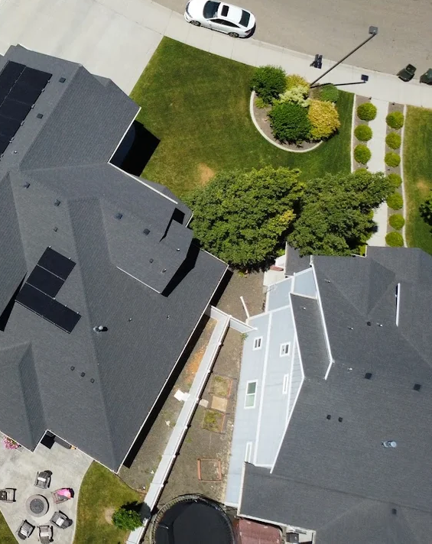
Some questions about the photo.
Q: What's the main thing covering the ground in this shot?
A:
buildings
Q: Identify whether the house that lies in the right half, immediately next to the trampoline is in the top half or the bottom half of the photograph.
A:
bottom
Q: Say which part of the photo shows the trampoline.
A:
bottom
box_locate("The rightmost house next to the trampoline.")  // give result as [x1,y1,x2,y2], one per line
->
[224,241,432,544]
